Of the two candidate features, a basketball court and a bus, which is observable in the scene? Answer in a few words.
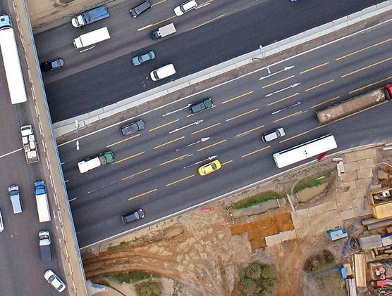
bus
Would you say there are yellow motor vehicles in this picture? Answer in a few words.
Yes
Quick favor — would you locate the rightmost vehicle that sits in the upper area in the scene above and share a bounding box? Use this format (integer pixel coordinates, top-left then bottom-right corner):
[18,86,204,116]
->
[314,84,392,124]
